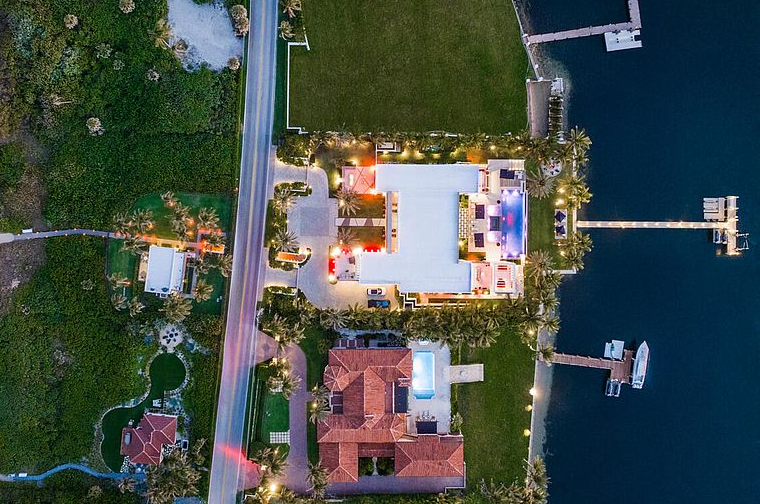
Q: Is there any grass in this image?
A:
Yes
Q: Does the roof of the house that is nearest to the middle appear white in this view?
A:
Yes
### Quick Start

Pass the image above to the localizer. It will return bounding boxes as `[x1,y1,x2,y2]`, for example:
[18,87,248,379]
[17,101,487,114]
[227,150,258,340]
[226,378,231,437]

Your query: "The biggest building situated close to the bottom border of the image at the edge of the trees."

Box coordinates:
[317,338,464,482]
